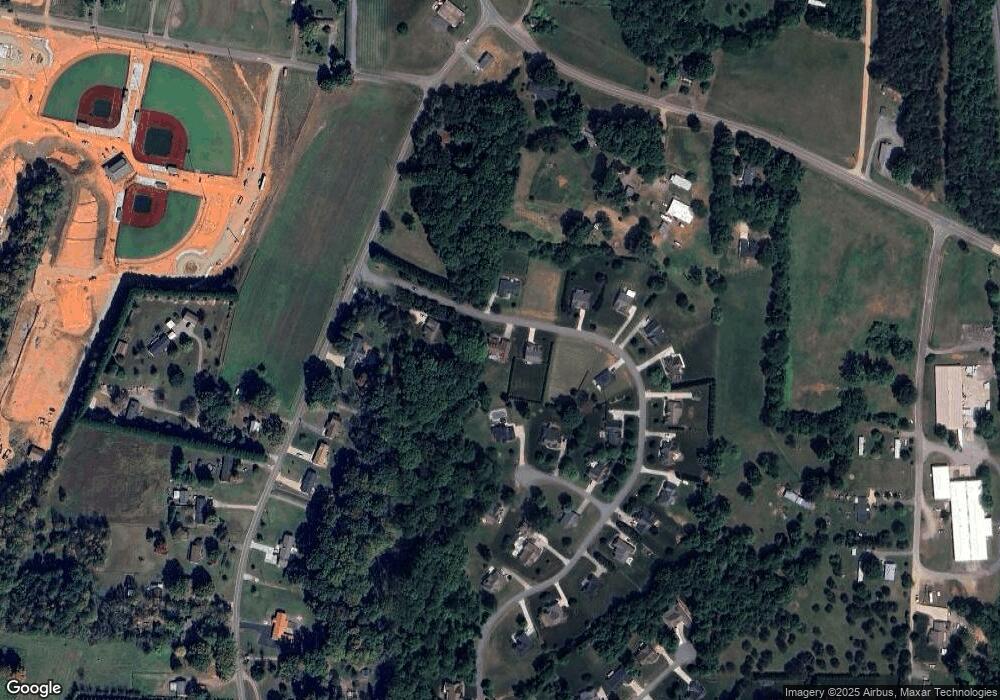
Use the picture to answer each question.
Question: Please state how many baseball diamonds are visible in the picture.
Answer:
3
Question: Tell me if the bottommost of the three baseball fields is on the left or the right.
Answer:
left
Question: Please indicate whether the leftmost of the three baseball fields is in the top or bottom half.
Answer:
top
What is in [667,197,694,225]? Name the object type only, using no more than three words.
barn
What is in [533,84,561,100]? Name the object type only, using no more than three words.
house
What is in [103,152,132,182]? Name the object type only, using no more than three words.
building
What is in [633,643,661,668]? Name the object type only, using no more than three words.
house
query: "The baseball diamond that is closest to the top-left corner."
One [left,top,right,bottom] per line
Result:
[39,48,131,127]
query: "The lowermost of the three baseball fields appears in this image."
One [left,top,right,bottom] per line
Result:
[116,185,203,265]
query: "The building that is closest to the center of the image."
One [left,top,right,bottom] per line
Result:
[488,340,509,361]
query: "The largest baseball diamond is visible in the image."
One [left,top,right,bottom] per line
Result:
[134,57,241,177]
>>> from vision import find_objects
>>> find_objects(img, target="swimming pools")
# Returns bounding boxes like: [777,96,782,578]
[489,407,508,420]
